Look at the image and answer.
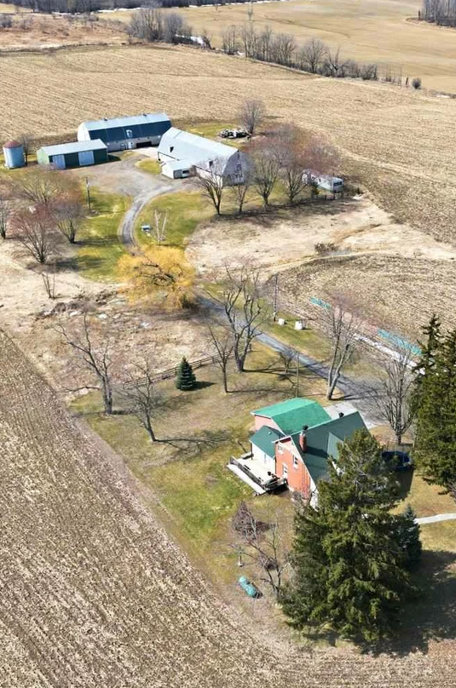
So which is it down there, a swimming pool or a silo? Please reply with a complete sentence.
This aerial view contains a silo.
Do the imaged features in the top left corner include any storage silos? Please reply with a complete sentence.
Yes, you'll find a storage silo in the top left corner.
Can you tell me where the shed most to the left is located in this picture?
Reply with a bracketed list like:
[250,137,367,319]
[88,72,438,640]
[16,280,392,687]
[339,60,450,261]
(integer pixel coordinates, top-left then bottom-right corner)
[36,139,108,171]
